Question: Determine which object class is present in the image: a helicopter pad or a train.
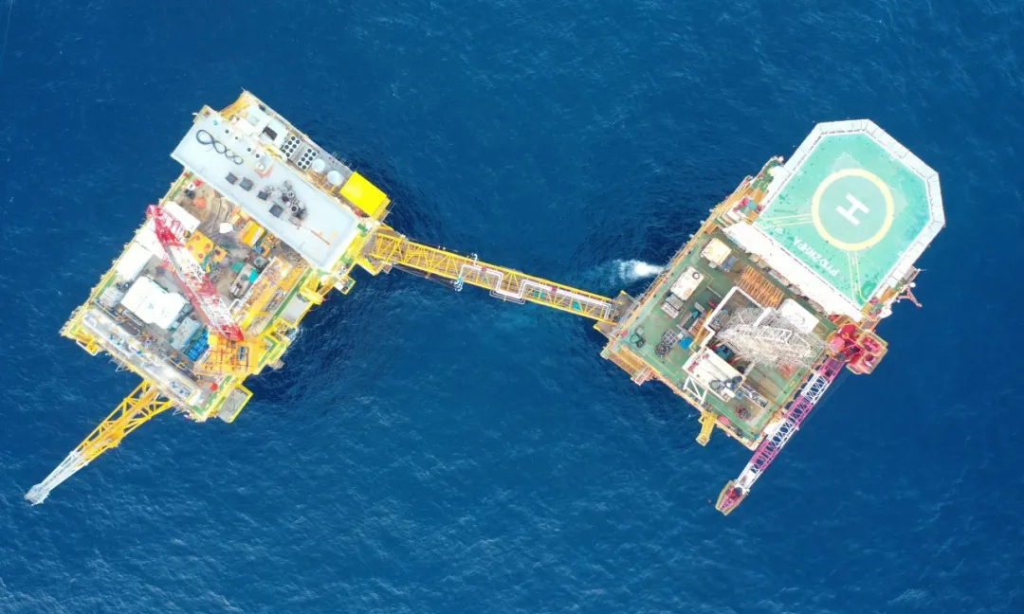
helicopter pad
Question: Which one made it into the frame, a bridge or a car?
bridge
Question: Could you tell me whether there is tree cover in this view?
No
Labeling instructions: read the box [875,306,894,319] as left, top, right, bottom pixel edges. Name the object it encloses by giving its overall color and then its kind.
white boat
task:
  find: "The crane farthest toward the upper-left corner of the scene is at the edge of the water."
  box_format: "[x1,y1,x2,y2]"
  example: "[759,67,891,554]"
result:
[147,206,261,378]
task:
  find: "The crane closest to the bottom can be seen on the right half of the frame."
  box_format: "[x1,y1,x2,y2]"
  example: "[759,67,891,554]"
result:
[714,324,892,517]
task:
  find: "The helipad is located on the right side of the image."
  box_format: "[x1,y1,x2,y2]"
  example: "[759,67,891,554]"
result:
[749,118,945,315]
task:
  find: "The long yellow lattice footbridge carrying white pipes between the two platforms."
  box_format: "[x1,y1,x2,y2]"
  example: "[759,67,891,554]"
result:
[371,232,619,324]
